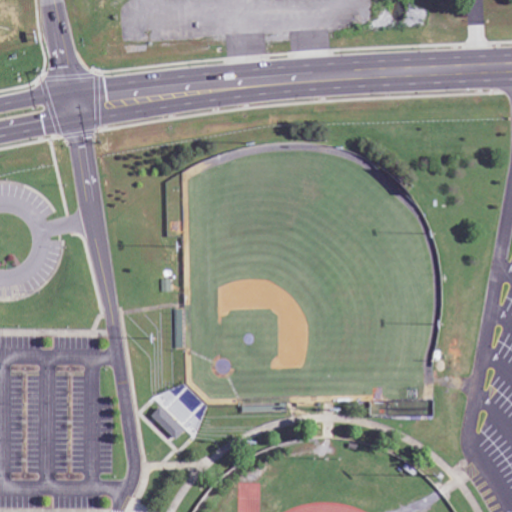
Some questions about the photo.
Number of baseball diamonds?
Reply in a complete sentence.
Just 1 baseball diamond appears in this view.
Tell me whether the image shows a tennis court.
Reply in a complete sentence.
No, no tennis court is visible in the scene.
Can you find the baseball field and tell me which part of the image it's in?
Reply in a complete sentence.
The baseball field is located in the center region of the scene.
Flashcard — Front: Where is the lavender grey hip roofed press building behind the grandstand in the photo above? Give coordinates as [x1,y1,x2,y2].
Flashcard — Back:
[151,406,184,440]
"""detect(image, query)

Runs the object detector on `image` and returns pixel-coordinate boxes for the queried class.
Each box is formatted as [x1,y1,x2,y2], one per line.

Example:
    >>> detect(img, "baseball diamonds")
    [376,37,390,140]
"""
[170,142,442,413]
